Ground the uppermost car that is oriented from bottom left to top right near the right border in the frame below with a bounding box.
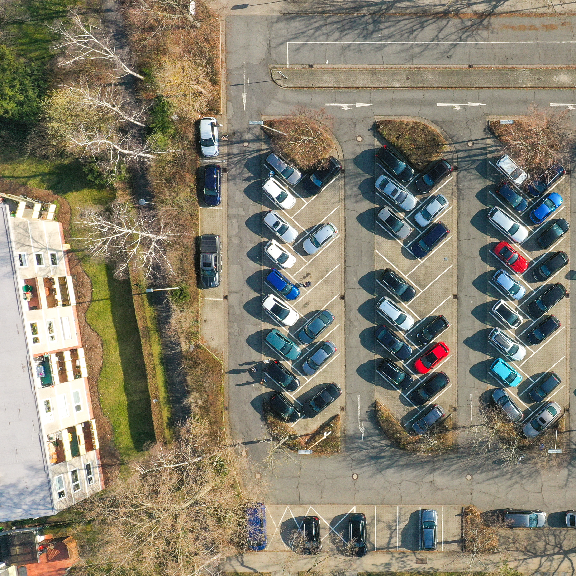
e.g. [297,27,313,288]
[528,161,566,197]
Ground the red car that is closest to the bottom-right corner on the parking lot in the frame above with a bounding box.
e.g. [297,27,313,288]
[415,340,451,374]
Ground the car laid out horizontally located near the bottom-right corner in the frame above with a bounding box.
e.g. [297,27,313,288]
[505,509,547,530]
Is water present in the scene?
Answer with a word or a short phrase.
No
